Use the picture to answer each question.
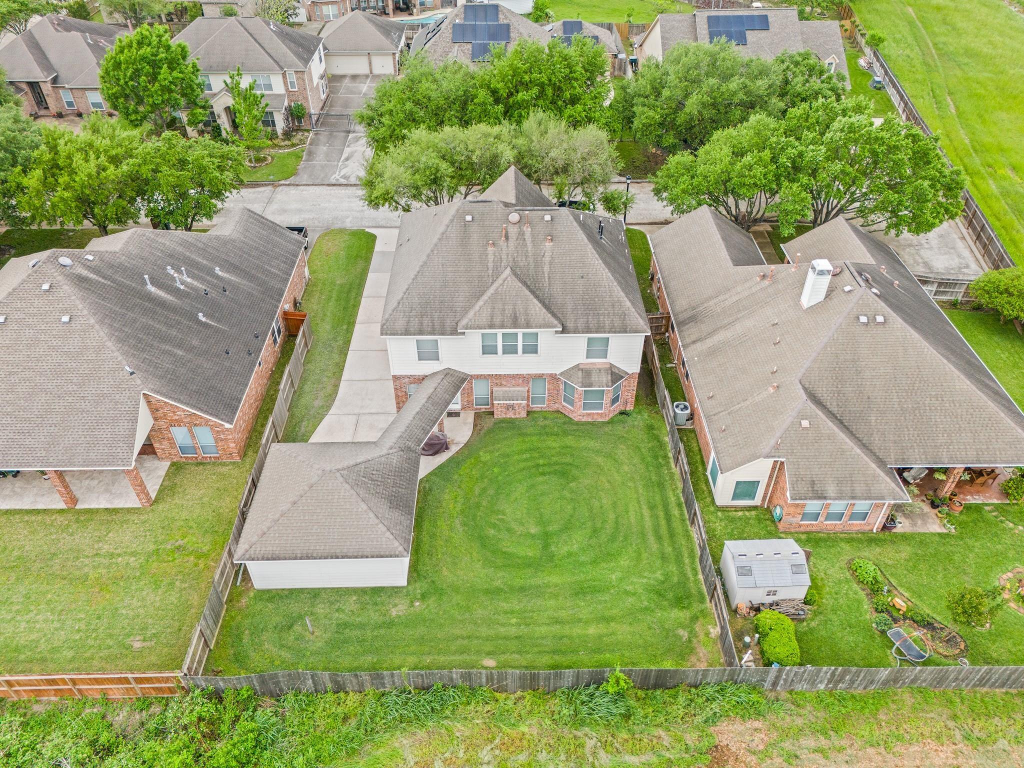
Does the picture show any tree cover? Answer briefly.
Yes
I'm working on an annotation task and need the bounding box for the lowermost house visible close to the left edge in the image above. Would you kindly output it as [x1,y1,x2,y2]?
[0,208,309,508]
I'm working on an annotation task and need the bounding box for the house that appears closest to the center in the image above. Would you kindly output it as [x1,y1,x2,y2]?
[379,166,652,421]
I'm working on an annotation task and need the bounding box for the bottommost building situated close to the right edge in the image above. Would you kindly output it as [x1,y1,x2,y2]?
[647,205,1024,535]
